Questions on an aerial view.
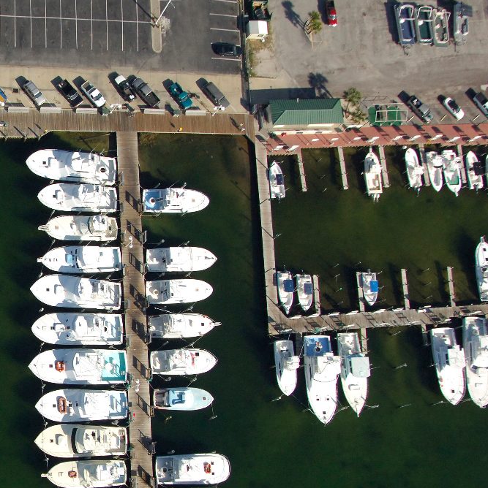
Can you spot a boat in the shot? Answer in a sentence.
Yes, the picture does show a boat.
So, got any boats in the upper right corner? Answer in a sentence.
Yes, there is a boat in the upper right corner.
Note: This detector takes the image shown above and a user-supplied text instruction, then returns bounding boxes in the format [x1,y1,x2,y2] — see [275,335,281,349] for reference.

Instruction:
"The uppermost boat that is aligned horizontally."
[26,143,117,186]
